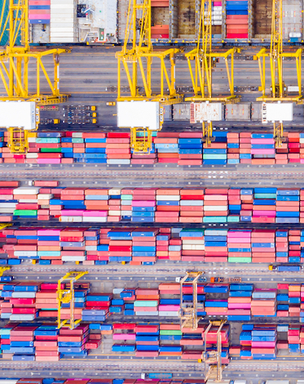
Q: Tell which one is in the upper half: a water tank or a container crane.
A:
container crane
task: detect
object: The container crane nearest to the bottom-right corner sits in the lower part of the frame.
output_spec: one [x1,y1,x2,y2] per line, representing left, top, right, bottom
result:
[202,317,229,383]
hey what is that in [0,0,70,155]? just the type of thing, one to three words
container crane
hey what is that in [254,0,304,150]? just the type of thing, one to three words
container crane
